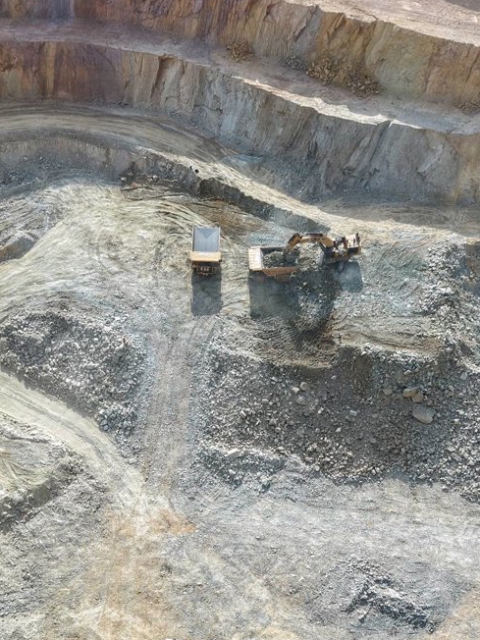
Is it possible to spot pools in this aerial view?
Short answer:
No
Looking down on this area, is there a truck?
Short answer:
Yes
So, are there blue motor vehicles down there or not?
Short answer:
No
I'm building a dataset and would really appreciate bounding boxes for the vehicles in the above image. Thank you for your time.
[188,223,222,277]
[249,245,304,287]
[289,235,369,273]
